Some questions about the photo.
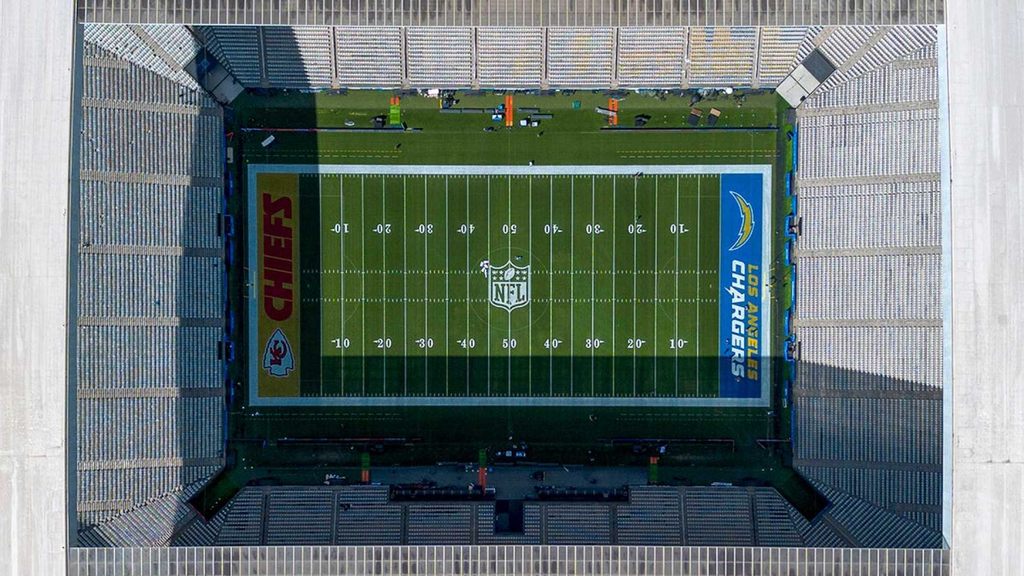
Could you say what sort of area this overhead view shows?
sports ground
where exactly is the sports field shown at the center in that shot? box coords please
[207,75,812,499]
